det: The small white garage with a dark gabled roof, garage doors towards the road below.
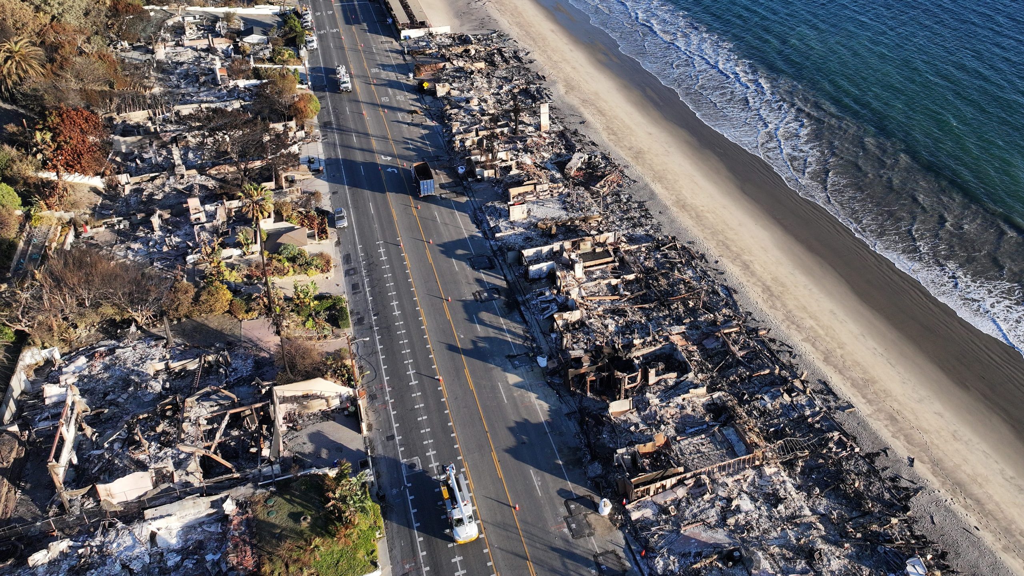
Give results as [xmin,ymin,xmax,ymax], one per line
[236,18,268,43]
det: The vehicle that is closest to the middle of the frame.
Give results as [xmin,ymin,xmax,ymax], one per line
[408,157,434,195]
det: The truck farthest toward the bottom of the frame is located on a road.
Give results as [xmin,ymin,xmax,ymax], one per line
[430,447,475,541]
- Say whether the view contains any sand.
Yes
